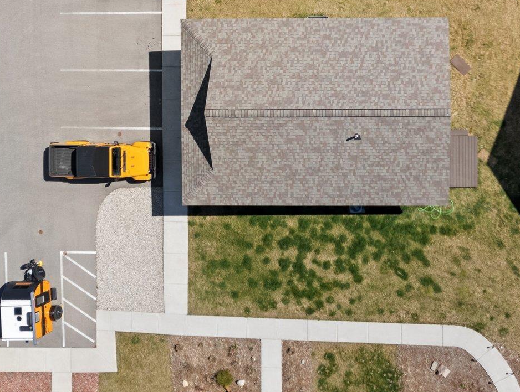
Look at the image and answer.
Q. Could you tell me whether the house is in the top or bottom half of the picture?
top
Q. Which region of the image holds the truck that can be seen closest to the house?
left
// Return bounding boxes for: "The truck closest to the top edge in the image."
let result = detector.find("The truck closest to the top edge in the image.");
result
[48,140,157,182]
